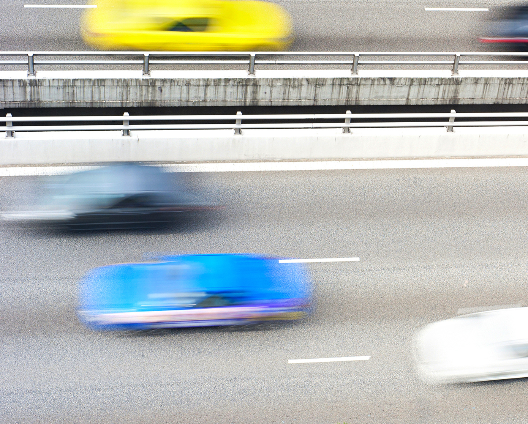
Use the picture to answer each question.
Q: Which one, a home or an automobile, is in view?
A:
automobile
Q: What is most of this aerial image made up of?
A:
paved ground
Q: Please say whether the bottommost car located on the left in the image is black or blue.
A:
blue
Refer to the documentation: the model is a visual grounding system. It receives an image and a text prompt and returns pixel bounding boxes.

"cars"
[482,0,528,60]
[83,250,308,336]
[92,0,281,60]
[14,157,203,237]
[414,303,528,391]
